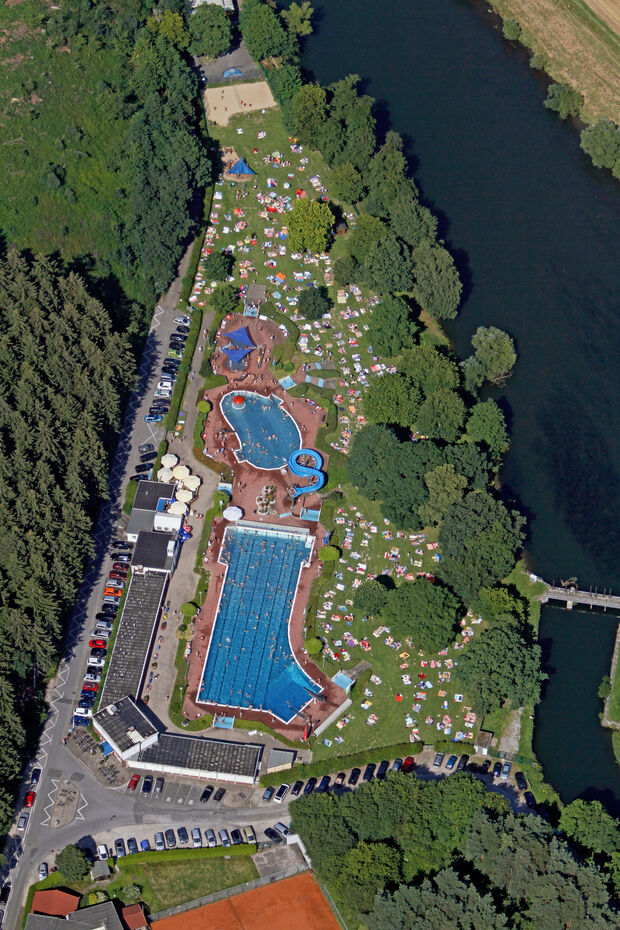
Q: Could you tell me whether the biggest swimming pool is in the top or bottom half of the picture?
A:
bottom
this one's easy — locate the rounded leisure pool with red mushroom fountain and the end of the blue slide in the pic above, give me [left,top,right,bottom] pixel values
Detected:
[219,390,303,470]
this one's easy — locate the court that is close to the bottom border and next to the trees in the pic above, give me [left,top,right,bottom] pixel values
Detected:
[146,871,335,930]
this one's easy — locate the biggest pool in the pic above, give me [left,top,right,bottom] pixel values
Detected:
[193,526,326,726]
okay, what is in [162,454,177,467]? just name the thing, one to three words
umbrella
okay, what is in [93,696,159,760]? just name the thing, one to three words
building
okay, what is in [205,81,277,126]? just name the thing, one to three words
sports court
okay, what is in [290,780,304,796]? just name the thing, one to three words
vehicle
